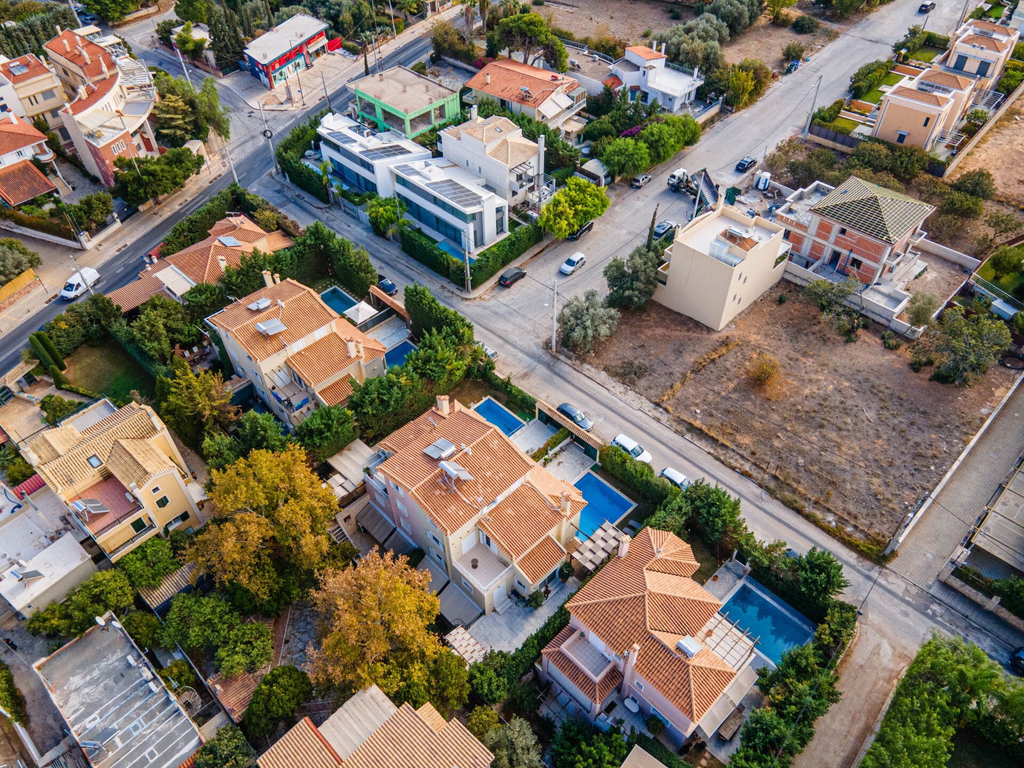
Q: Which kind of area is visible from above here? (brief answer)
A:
residential area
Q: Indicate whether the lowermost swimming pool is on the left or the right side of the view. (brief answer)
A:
right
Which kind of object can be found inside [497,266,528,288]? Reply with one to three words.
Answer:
car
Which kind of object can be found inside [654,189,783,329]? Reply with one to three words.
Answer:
house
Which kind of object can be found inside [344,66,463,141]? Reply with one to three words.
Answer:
building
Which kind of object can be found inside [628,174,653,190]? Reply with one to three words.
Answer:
car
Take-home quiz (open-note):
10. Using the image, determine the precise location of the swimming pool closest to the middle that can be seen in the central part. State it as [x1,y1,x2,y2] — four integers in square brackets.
[466,390,533,438]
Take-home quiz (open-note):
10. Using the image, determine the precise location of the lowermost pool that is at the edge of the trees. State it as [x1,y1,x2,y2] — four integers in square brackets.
[708,571,818,668]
